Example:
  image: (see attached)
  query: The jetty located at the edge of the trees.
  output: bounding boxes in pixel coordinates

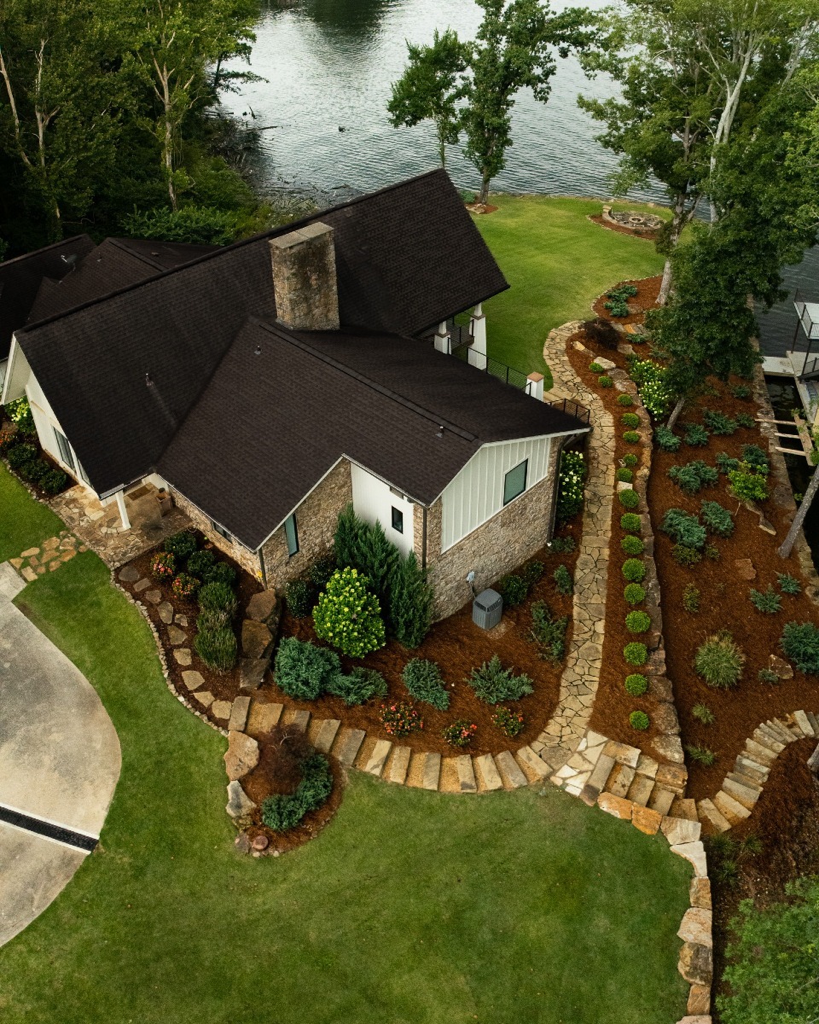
[764,287,819,453]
